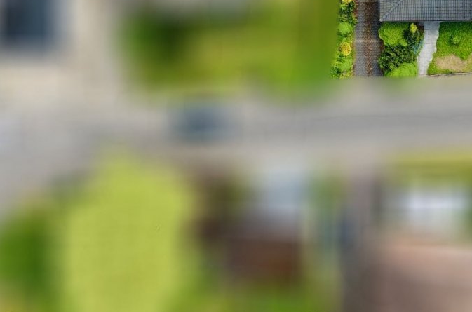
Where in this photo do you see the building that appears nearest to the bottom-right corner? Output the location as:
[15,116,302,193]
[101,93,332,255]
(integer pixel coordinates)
[376,230,472,312]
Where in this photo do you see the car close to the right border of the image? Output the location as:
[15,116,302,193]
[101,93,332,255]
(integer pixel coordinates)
[403,183,470,217]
